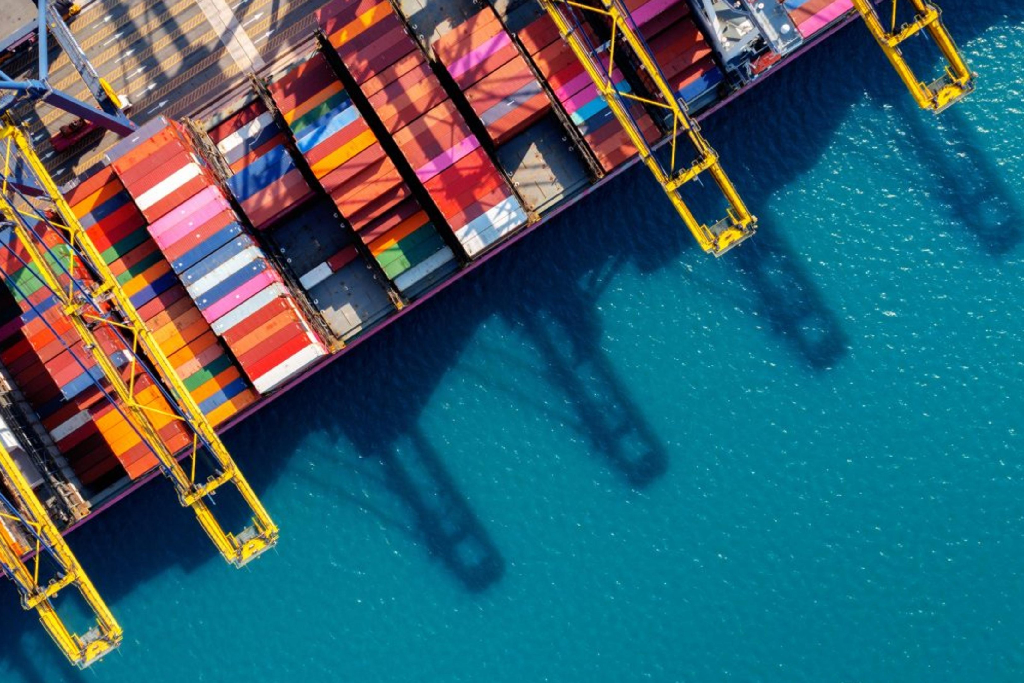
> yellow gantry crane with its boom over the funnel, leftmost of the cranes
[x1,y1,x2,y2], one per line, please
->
[0,448,125,672]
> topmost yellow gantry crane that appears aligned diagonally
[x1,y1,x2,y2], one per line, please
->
[850,0,974,122]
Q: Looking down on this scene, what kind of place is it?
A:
port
